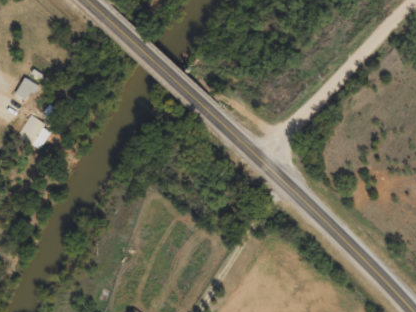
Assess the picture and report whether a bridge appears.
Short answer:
Yes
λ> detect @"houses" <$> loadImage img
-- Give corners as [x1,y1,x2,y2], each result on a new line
[14,76,40,103]
[20,116,50,150]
